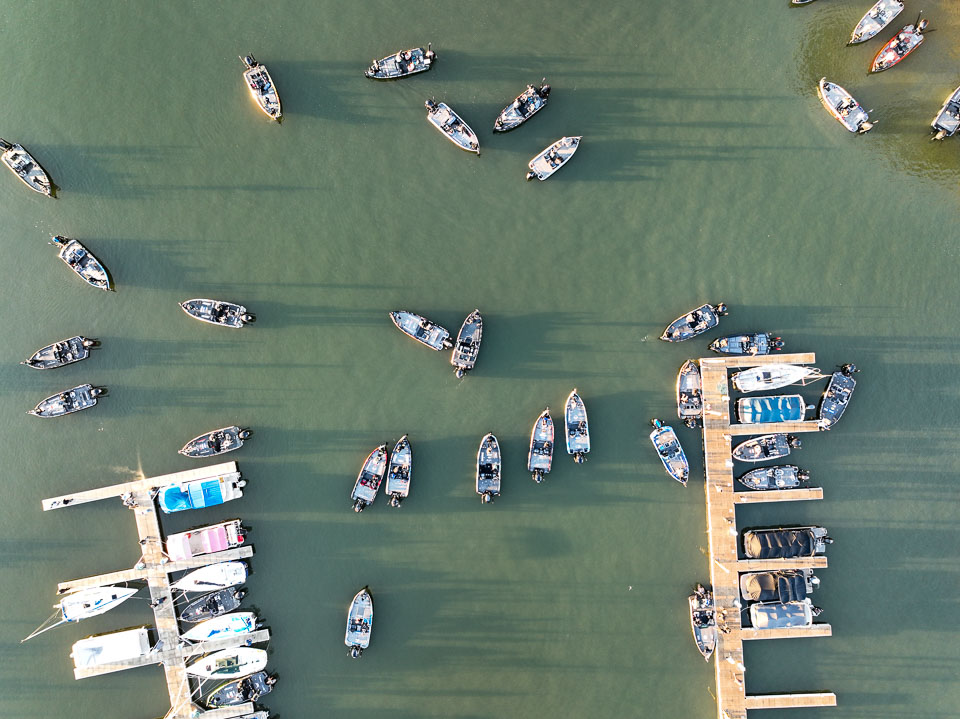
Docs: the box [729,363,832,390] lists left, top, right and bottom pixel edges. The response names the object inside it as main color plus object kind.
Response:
white boat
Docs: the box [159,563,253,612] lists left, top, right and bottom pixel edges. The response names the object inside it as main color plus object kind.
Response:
white boat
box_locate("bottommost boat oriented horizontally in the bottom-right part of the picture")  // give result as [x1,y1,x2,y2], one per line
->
[748,601,822,631]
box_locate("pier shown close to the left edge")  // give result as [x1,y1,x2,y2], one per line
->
[42,461,271,719]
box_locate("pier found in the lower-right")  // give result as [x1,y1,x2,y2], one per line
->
[698,351,837,719]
